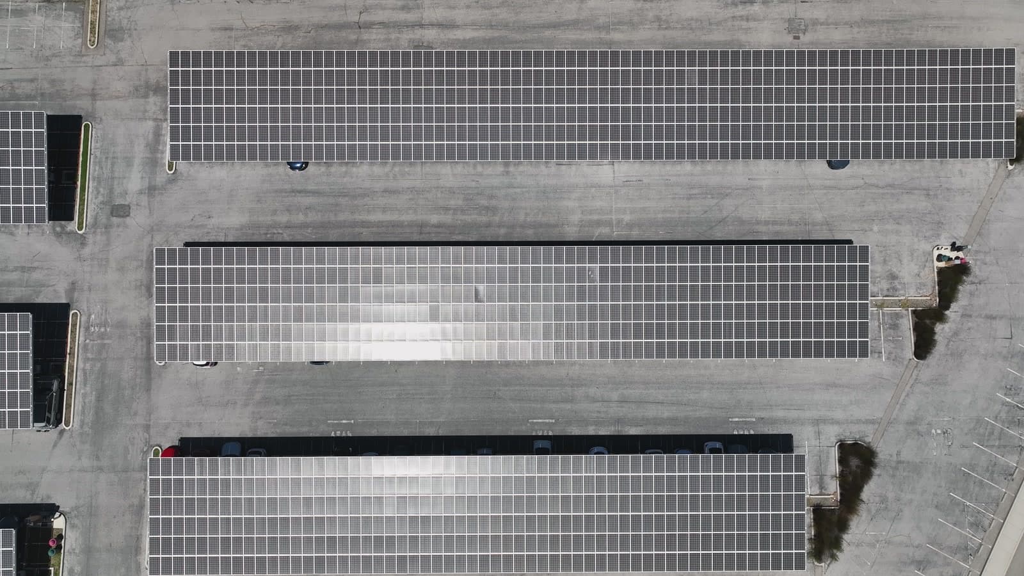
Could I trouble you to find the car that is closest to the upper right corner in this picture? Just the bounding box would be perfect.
[826,159,850,171]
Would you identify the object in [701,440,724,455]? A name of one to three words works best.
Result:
car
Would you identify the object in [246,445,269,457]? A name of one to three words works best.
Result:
vehicle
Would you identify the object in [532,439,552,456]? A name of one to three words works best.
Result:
car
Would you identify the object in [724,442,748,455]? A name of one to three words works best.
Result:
vehicle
